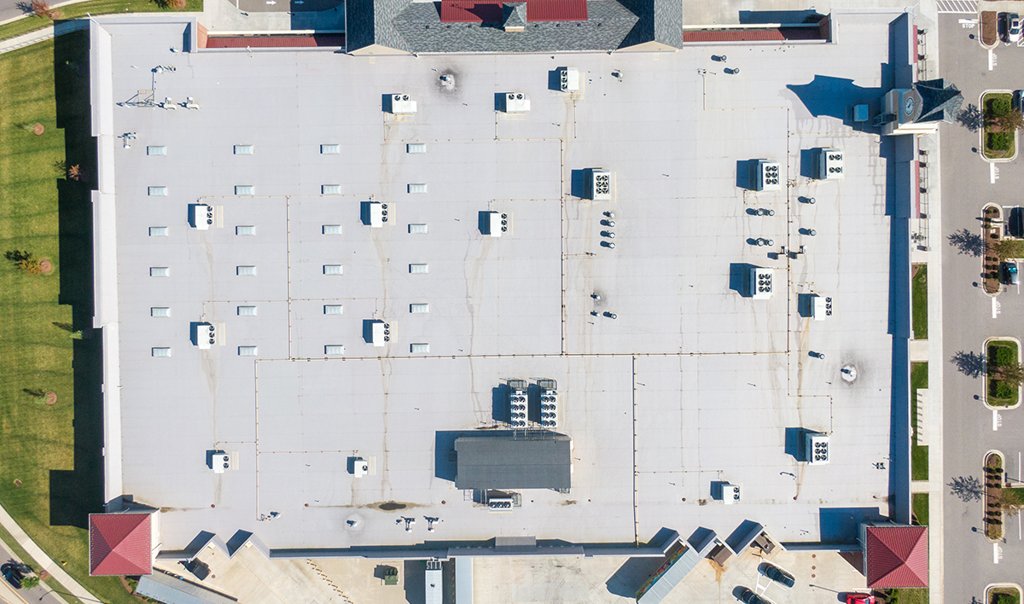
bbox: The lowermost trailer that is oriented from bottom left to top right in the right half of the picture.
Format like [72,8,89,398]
[609,541,702,604]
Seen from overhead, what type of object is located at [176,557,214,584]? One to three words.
truck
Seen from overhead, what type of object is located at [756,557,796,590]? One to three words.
car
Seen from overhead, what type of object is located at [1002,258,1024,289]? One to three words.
car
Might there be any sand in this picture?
No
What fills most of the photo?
buildings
